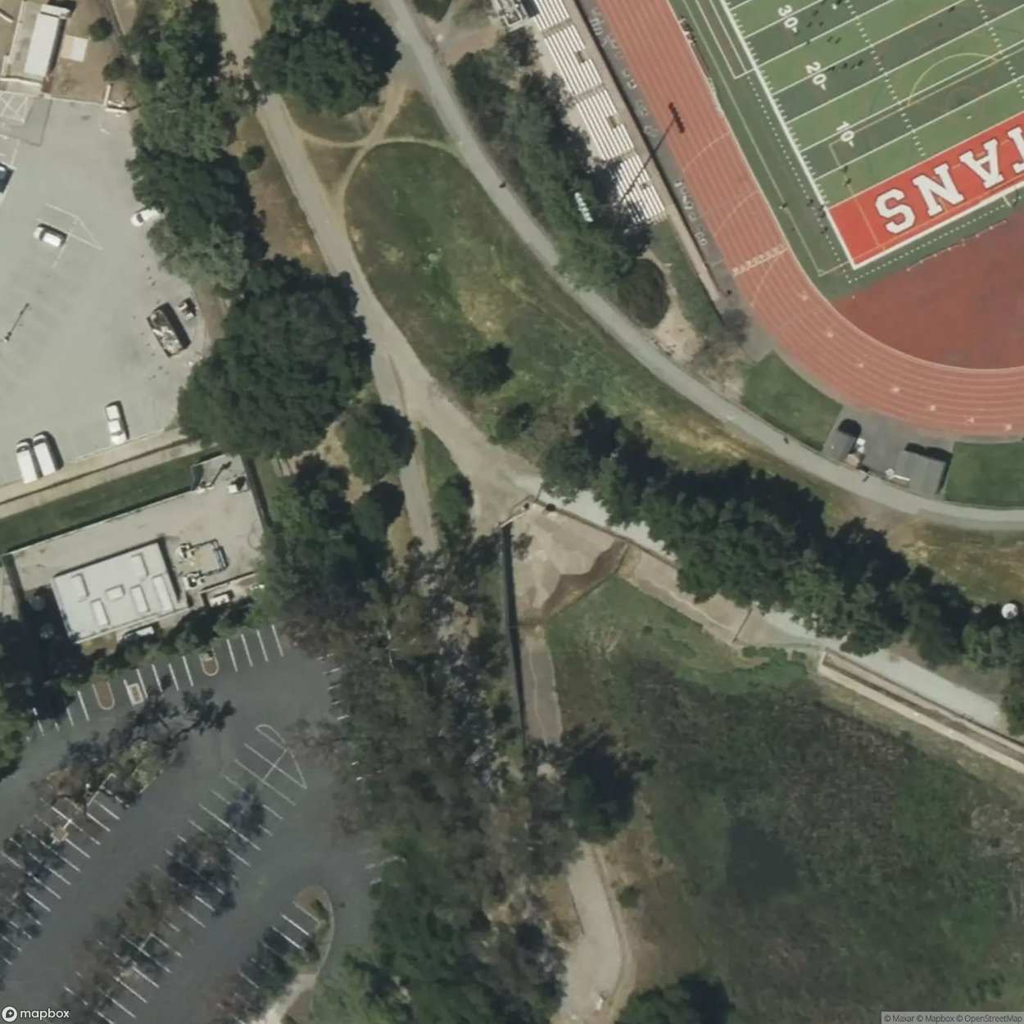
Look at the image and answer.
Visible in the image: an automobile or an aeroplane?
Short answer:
automobile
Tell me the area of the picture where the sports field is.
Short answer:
top right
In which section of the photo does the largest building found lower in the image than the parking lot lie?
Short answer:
left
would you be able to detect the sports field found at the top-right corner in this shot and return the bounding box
[670,0,1024,301]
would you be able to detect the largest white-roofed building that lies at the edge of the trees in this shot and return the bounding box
[56,543,183,645]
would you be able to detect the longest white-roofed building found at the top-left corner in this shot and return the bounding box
[26,16,66,79]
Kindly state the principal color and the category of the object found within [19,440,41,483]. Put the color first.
white vehicle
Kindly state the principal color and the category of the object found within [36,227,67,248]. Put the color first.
white car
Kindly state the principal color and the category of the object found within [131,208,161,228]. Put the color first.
white car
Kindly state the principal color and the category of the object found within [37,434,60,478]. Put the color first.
white vehicle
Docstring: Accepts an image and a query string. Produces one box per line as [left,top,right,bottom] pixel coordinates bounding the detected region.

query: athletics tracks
[599,0,1024,433]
